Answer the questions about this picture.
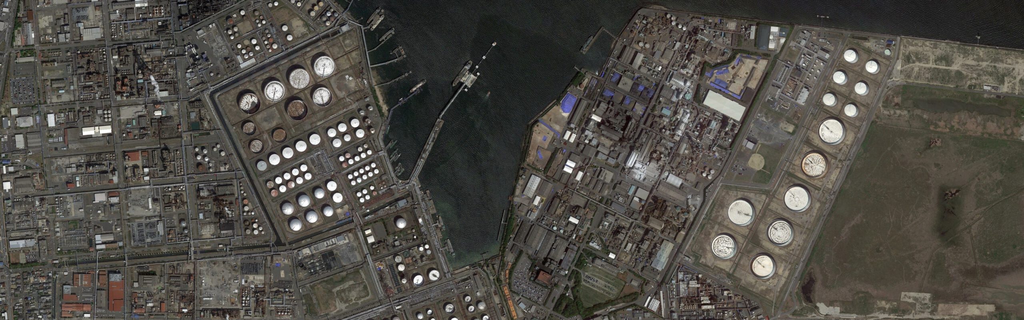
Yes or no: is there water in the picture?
Yes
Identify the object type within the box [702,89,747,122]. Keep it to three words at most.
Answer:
building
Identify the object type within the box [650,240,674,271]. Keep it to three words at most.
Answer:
building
